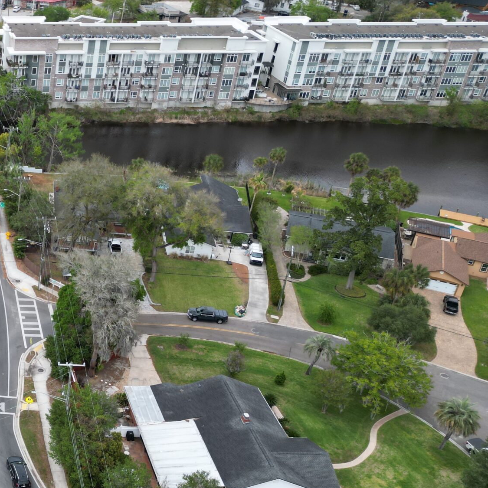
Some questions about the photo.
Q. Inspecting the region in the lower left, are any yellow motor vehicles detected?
No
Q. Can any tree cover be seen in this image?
Yes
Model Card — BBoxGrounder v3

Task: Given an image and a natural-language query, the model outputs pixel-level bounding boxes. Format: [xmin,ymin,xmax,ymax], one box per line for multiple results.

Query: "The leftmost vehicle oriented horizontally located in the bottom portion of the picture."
[187,308,230,325]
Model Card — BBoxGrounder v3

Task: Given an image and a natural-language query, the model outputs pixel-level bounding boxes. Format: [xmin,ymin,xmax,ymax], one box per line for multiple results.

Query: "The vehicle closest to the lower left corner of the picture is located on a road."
[4,453,35,488]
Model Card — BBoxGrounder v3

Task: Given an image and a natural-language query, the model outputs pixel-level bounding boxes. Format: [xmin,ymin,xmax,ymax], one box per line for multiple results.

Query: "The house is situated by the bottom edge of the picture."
[151,376,339,488]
